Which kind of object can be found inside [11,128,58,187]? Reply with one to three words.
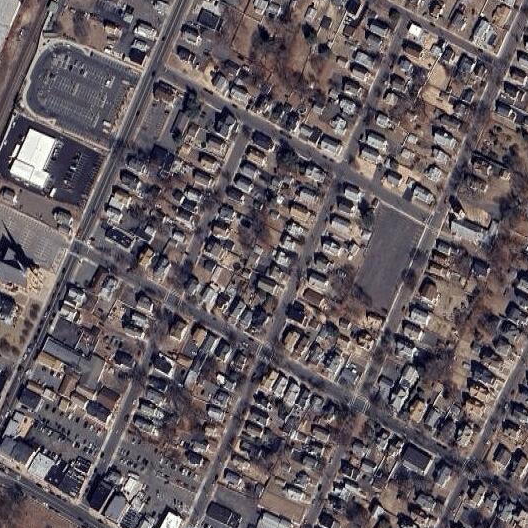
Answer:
building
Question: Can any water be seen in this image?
No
